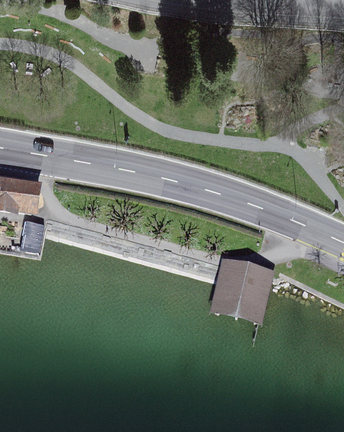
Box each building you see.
[208,258,274,328]
[0,176,41,218]
[20,220,44,256]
